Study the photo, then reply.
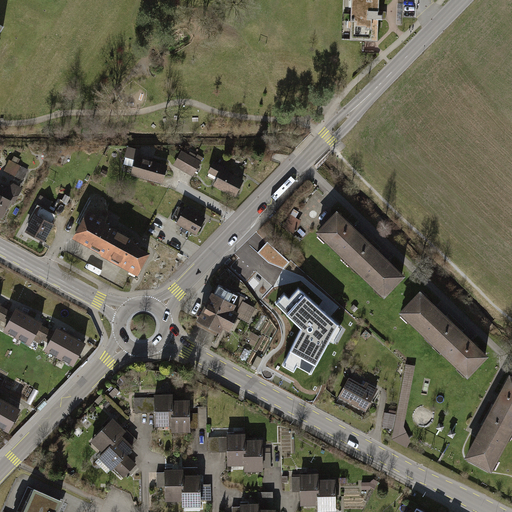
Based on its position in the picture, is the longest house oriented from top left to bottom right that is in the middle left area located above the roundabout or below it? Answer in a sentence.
The longest house oriented from top left to bottom right that is in the middle left area appears above the roundabout in the picture.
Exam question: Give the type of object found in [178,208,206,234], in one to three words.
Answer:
house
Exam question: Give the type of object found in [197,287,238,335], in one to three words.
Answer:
house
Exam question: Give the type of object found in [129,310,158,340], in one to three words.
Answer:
roundabout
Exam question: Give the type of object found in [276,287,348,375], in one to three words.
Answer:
building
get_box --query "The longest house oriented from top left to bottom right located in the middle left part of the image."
[72,214,152,281]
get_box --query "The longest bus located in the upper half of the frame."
[272,178,296,200]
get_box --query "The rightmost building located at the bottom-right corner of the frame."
[465,372,512,472]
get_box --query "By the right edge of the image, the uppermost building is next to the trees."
[398,294,488,378]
